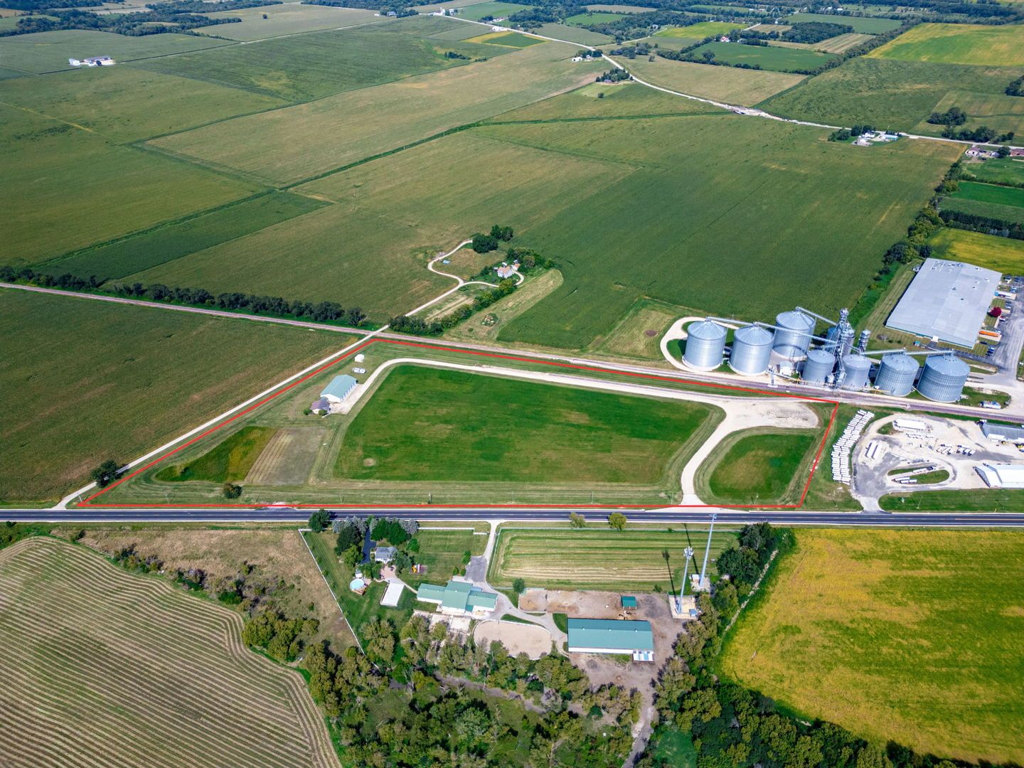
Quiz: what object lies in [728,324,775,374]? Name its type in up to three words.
silo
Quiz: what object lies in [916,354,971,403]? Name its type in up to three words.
silo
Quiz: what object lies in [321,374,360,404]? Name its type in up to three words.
barn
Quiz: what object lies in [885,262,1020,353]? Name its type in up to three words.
building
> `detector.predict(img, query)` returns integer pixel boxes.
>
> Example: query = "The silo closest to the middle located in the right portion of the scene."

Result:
[681,319,727,368]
